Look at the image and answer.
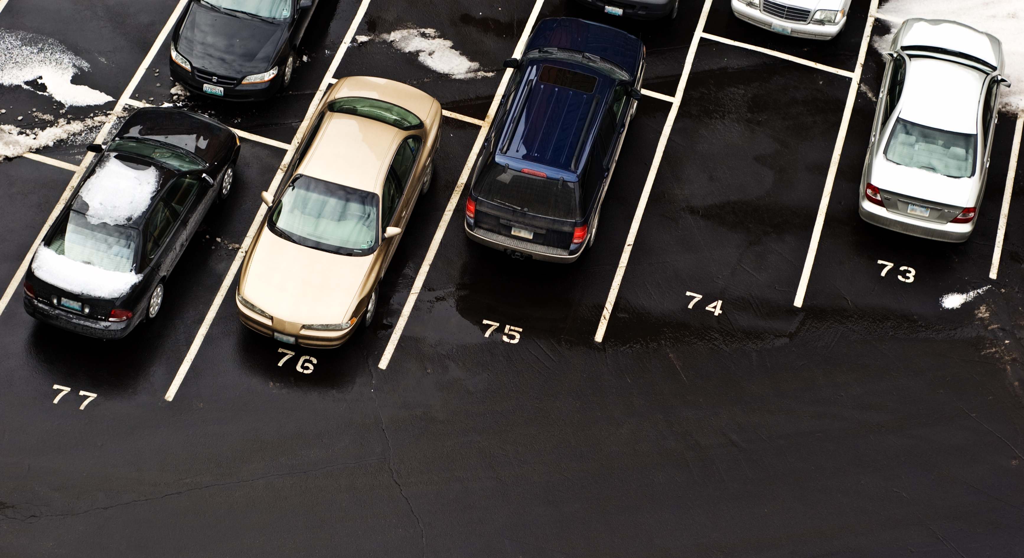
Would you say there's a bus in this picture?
No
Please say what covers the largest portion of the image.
paved ground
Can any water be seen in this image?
No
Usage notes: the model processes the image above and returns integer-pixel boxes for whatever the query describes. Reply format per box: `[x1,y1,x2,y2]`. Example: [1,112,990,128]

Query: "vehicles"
[731,0,849,40]
[860,20,1013,243]
[26,103,237,337]
[577,0,679,23]
[466,21,644,266]
[241,82,439,346]
[173,0,316,102]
